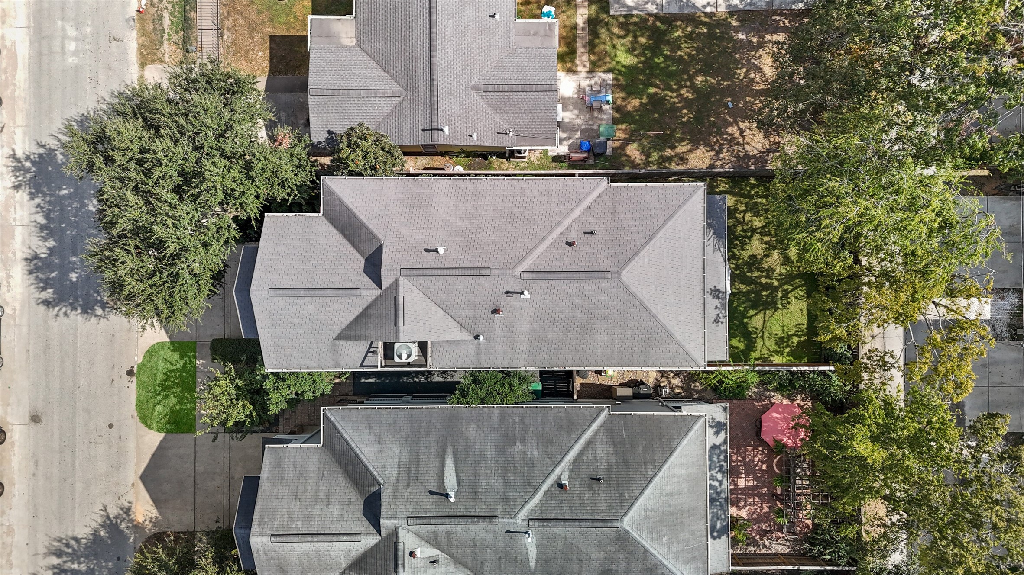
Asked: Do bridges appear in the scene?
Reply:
No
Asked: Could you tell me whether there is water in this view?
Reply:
No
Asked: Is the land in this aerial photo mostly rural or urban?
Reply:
urban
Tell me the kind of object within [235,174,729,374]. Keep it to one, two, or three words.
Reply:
house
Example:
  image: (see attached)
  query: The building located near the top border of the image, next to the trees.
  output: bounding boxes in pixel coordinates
[306,0,562,150]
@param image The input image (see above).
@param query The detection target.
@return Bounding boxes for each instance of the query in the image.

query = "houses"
[235,395,729,575]
[306,0,562,150]
[235,174,729,374]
